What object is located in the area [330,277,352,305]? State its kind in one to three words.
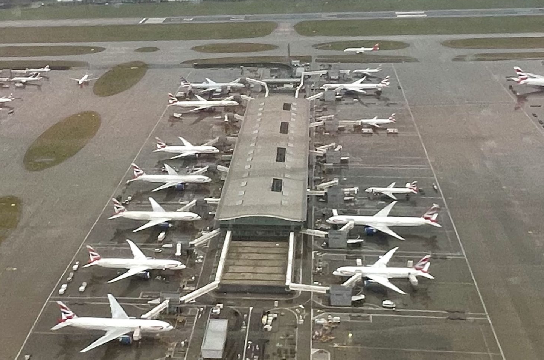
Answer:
building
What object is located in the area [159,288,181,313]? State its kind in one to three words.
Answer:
building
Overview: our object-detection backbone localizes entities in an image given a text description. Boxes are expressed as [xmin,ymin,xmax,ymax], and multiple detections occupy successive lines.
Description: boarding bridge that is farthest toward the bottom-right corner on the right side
[351,271,367,290]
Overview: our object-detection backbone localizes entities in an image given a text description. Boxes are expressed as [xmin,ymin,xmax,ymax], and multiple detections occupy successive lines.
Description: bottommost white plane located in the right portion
[333,247,430,292]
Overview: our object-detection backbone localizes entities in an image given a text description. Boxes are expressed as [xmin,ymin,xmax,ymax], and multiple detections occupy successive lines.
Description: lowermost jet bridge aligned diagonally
[137,300,170,320]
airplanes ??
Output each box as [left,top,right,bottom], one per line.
[12,73,43,83]
[327,199,437,241]
[153,135,220,158]
[26,65,51,73]
[353,64,382,74]
[0,93,14,102]
[333,247,430,292]
[361,115,396,126]
[85,239,186,284]
[512,65,544,87]
[129,161,212,190]
[52,295,173,356]
[182,74,244,92]
[74,73,96,83]
[365,182,416,199]
[169,92,238,112]
[320,74,390,94]
[344,43,380,53]
[108,194,201,231]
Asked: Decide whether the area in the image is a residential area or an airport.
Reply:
airport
